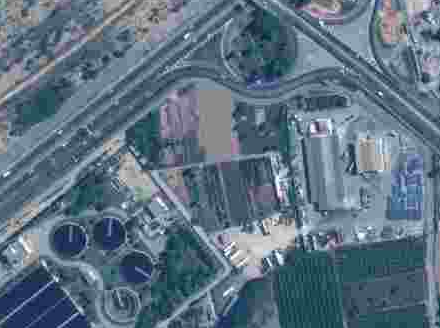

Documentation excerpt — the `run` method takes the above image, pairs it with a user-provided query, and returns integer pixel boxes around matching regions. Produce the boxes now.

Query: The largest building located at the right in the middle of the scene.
[305,132,352,212]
